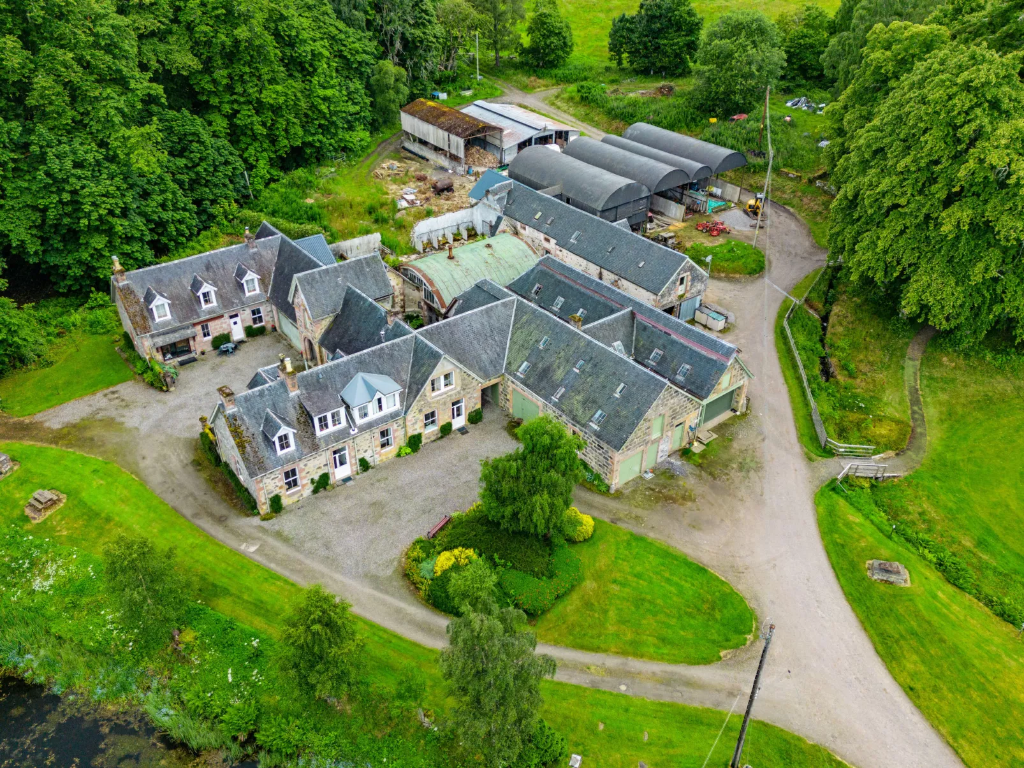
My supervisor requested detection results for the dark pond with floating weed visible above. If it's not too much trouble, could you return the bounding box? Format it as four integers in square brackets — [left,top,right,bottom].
[0,671,269,768]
